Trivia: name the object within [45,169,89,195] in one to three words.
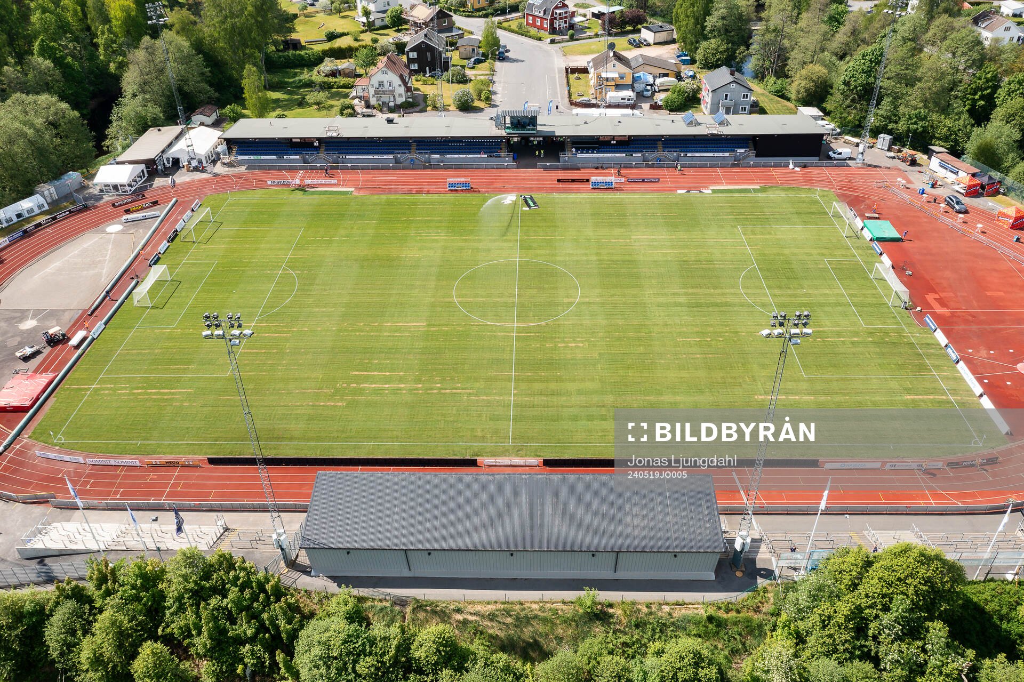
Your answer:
shipping container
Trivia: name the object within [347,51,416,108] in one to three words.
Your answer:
house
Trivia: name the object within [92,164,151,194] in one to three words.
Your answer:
tent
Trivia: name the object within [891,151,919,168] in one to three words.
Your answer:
work vehicle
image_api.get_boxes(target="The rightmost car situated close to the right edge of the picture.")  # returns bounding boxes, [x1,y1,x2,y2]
[941,195,973,212]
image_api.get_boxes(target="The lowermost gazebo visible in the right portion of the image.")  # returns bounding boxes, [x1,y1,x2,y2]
[992,202,1024,229]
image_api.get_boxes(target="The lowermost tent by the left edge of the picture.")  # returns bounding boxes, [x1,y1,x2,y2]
[0,188,48,229]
